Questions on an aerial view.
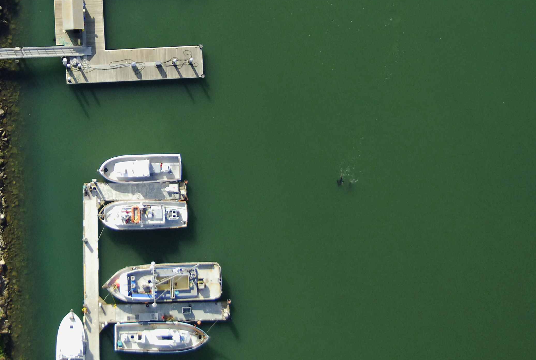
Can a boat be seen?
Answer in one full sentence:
Yes, a boat appears in the view.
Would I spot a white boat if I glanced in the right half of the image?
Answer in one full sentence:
No, there is no white boat in the right half of the image.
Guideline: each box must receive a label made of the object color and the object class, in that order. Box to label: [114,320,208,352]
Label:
white boat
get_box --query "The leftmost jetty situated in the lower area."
[84,183,100,360]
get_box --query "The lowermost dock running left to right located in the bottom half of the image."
[99,297,229,332]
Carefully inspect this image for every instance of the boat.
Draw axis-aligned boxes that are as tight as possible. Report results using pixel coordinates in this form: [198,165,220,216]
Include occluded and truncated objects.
[102,261,222,307]
[56,309,87,360]
[98,200,187,229]
[114,320,208,352]
[97,154,181,182]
